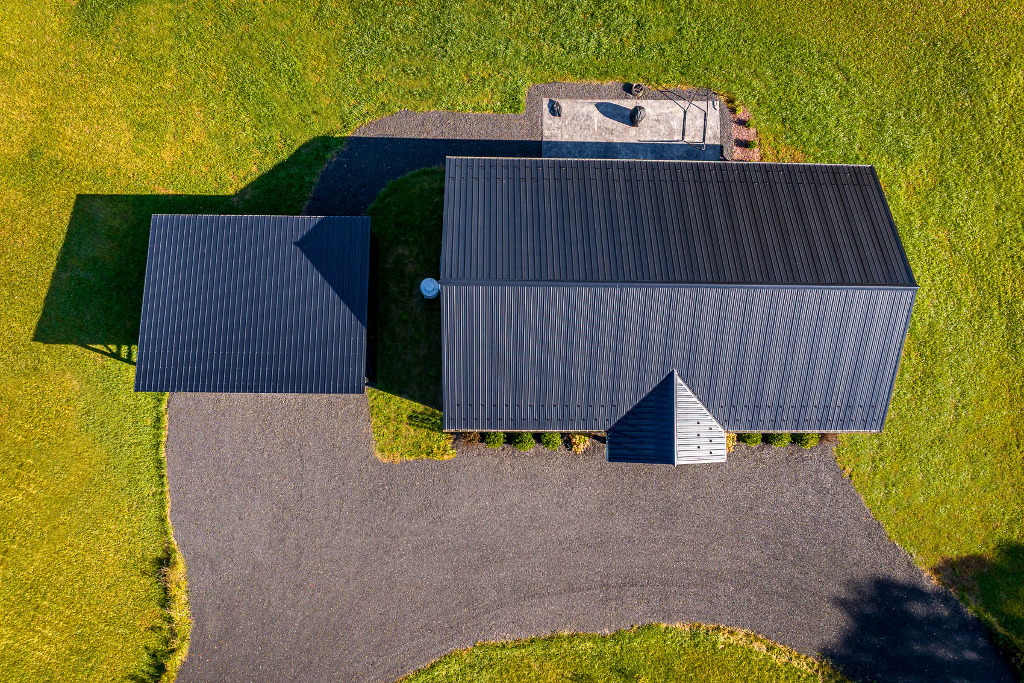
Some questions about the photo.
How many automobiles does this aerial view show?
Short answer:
0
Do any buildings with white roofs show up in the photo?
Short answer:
No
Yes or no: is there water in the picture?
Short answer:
No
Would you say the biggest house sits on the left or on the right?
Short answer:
right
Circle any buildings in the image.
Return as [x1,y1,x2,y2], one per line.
[135,214,379,394]
[439,156,922,466]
